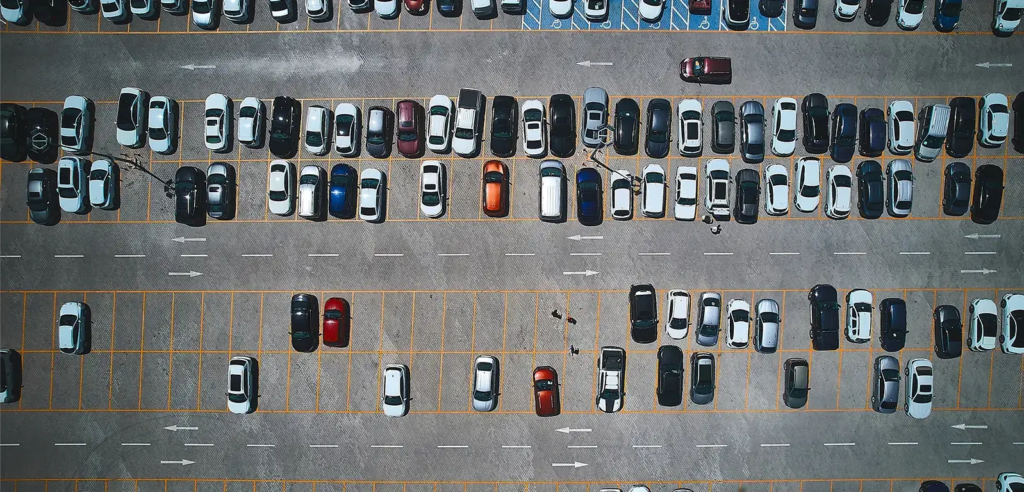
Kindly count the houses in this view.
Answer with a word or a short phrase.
none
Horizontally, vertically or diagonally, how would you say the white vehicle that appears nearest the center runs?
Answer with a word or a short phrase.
vertically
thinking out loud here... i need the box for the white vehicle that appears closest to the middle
[538,160,565,221]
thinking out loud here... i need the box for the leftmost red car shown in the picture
[319,297,347,346]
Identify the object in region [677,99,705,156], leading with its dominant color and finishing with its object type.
white car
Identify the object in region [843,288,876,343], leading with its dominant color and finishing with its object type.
white car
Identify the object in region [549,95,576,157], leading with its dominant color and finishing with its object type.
black car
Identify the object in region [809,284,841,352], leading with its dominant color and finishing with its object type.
black truck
